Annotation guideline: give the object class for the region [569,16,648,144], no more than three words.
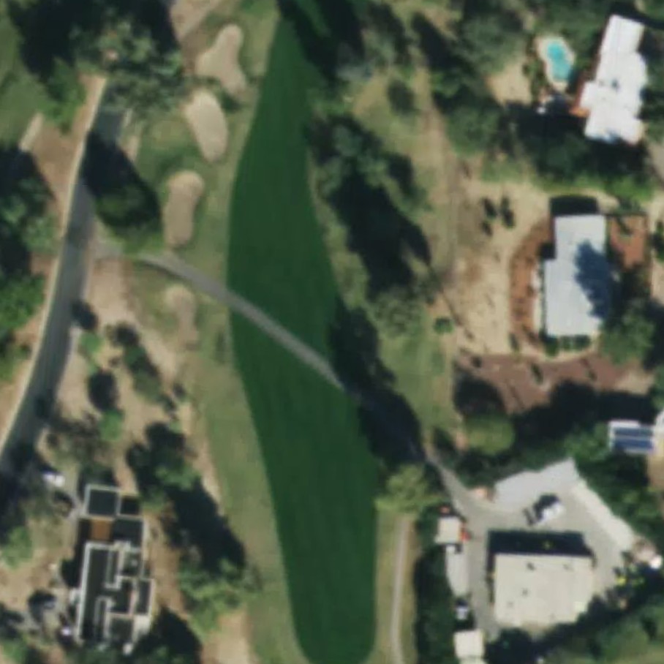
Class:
house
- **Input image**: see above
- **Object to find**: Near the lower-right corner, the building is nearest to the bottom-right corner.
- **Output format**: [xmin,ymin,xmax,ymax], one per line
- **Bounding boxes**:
[495,558,594,627]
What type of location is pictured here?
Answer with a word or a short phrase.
golf course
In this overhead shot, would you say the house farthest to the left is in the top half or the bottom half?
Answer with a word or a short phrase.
bottom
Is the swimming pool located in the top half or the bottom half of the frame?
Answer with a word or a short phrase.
top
